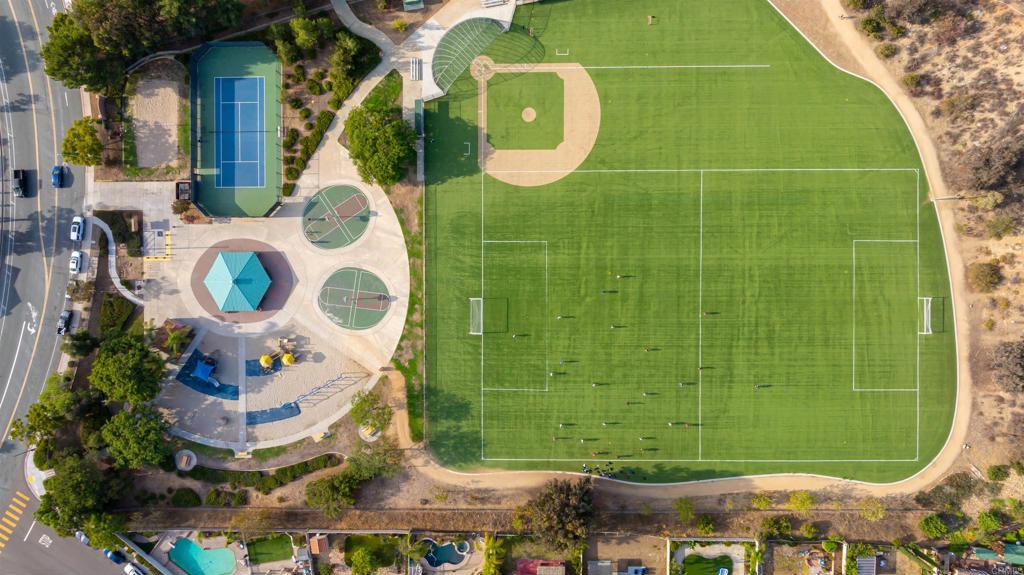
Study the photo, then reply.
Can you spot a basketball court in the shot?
Yes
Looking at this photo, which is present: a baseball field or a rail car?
baseball field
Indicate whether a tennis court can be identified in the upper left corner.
Yes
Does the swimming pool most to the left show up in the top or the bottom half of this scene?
bottom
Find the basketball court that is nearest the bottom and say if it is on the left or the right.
left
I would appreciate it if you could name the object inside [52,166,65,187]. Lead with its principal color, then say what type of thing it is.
blue vehicle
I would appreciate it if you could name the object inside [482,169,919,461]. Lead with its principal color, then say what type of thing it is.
green soccer field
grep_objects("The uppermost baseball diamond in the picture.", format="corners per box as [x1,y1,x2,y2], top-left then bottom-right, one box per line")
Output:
[463,49,770,186]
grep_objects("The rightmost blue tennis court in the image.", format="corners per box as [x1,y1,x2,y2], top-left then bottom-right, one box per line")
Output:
[198,47,281,215]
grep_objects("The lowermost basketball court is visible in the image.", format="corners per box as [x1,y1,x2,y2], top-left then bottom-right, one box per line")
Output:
[318,267,390,330]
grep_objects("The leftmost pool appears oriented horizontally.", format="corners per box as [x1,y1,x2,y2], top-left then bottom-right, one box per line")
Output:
[165,537,237,575]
